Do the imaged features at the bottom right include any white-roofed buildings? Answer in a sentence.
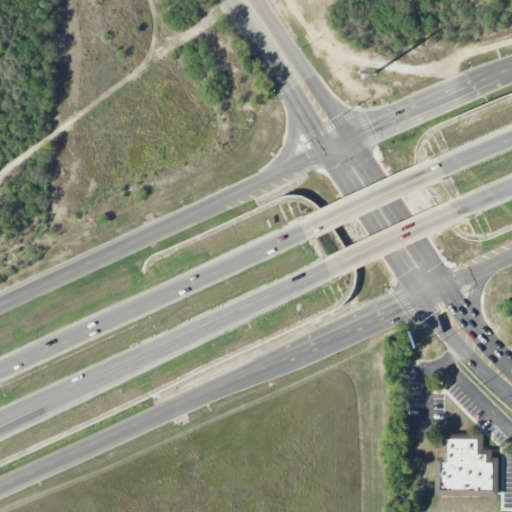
Yes, looking at the bottom right, one can make out a white-roofed building.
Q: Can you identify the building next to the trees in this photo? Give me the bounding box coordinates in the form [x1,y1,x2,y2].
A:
[436,434,498,496]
